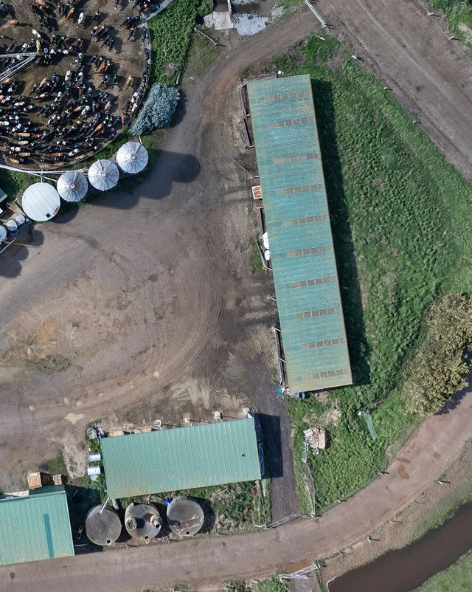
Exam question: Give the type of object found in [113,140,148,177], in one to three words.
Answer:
silo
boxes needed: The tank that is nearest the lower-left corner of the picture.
[85,502,122,543]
